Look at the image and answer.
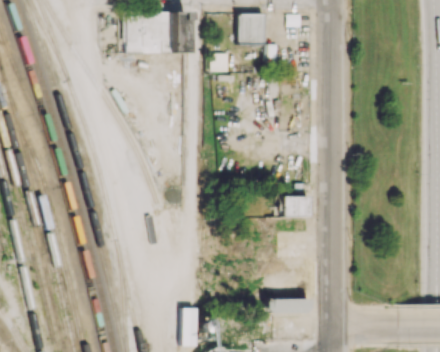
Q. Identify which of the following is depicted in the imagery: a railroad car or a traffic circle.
railroad car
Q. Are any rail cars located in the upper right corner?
No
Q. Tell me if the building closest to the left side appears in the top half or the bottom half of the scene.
top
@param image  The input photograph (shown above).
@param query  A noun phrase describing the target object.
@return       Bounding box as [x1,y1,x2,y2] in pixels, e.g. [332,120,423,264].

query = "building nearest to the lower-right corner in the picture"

[262,299,316,312]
